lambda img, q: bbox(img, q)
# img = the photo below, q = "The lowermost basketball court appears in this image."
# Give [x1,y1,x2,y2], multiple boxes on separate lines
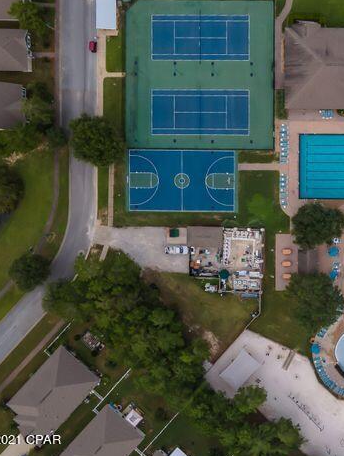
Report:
[127,150,237,212]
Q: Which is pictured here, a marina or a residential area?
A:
residential area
